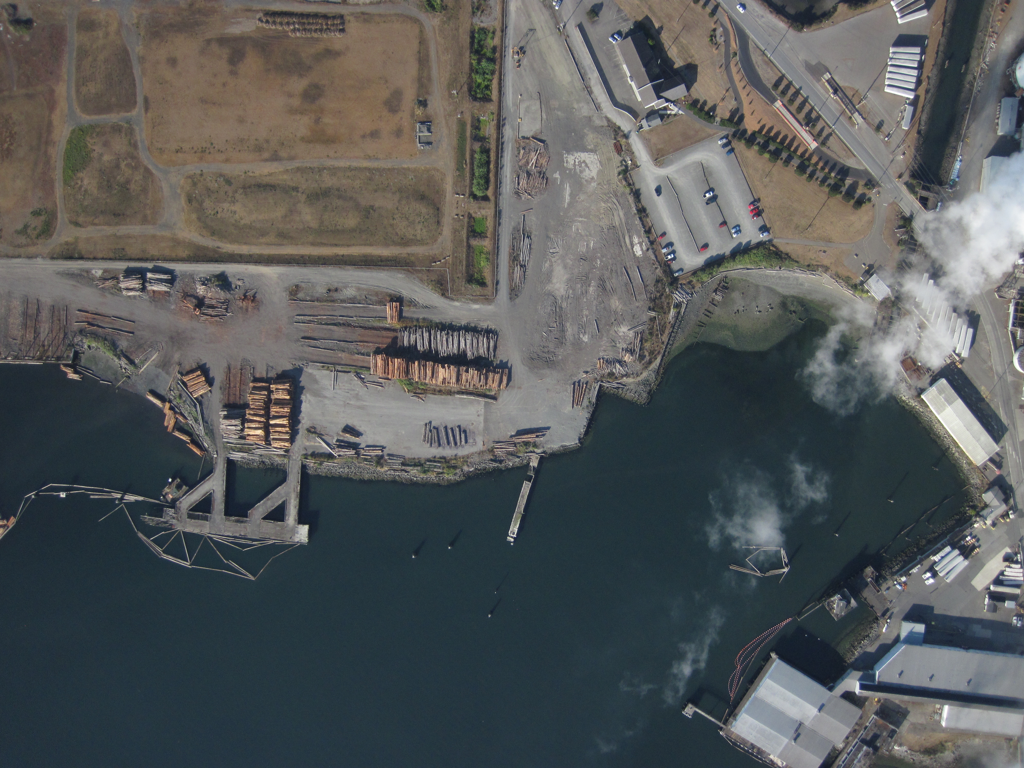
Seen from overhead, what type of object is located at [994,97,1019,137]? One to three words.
shed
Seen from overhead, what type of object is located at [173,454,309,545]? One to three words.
pier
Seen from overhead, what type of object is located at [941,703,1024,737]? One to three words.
building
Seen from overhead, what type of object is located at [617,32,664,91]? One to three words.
building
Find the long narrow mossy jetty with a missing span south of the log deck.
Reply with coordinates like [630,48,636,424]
[507,456,540,541]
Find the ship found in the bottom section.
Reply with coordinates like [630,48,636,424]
[163,478,188,502]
